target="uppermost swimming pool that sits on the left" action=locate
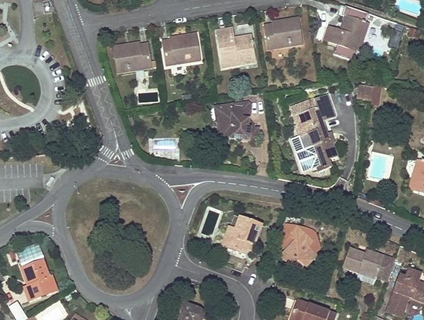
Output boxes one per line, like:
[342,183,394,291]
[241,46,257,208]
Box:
[138,92,159,104]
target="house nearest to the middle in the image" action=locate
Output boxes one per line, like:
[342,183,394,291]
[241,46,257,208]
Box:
[213,100,254,140]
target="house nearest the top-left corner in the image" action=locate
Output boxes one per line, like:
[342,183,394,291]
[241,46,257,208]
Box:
[112,41,154,76]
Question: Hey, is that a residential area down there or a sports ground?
residential area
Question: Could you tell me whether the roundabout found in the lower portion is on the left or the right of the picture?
left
